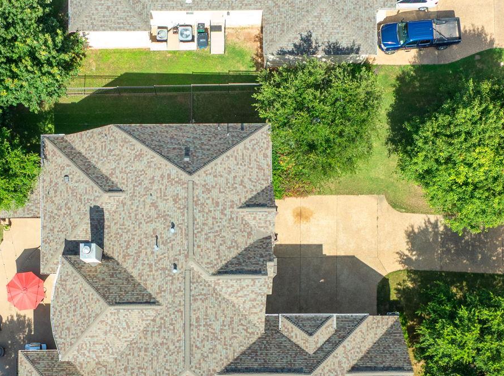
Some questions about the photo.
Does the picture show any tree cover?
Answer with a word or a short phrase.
Yes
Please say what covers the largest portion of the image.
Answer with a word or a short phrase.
buildings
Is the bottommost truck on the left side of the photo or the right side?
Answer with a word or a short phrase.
right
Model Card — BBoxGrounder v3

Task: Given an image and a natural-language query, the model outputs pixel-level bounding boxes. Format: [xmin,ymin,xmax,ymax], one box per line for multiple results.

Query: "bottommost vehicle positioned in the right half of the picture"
[378,15,463,55]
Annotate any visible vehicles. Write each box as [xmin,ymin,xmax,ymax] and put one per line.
[396,0,441,14]
[378,15,463,55]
